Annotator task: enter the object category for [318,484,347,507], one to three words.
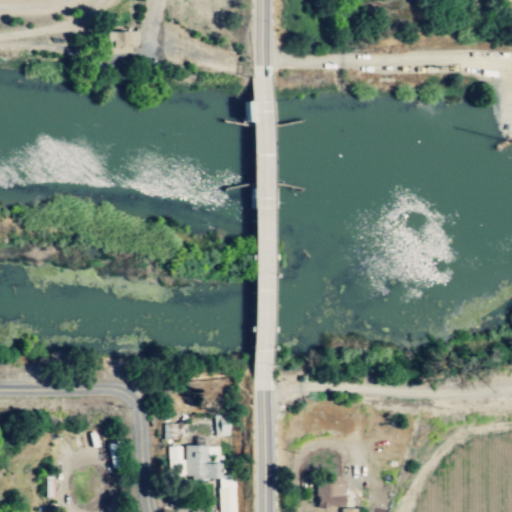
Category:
house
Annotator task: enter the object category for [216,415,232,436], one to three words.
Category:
shed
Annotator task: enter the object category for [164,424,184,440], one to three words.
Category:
shed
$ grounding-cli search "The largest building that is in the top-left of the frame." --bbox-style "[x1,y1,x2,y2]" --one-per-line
[110,30,140,50]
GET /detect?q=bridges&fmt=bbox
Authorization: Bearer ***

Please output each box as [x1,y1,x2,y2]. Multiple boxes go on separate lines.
[247,60,280,390]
